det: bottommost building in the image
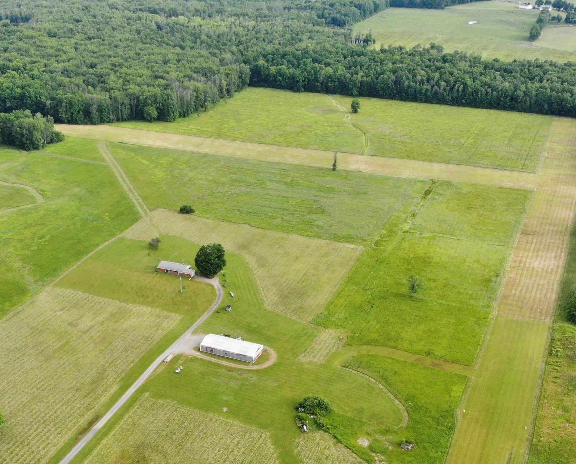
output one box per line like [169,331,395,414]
[201,333,262,363]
